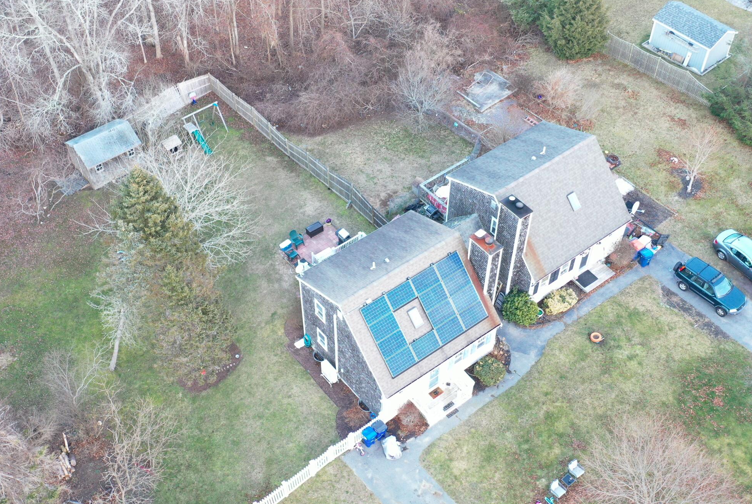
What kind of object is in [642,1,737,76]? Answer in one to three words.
shed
